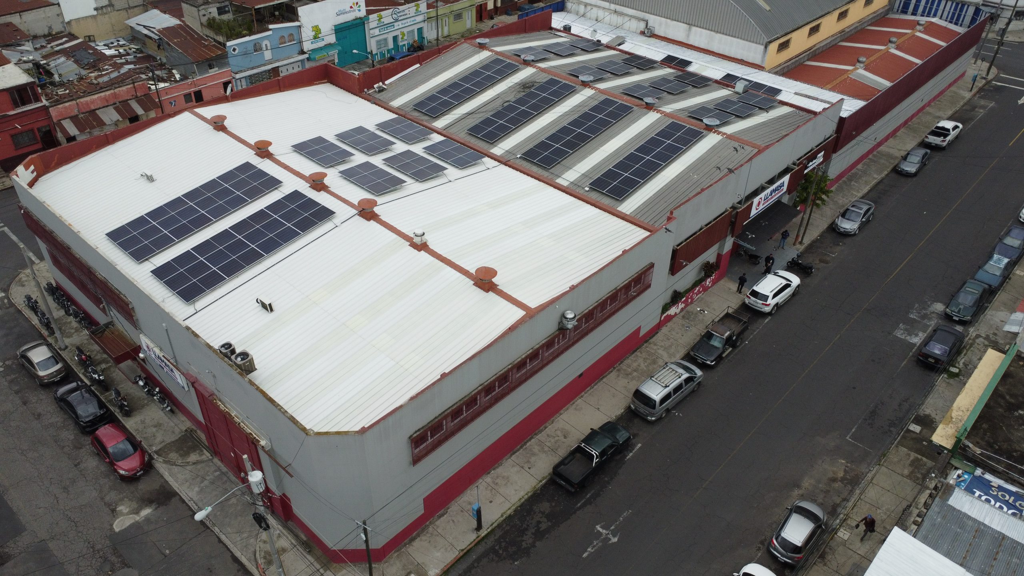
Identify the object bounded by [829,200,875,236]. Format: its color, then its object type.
gray car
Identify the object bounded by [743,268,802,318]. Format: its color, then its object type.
white car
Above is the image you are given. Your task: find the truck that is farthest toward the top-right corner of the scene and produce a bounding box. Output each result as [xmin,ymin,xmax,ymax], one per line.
[920,121,961,152]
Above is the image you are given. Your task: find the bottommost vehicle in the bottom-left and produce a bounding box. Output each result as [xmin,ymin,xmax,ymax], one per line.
[88,421,159,487]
